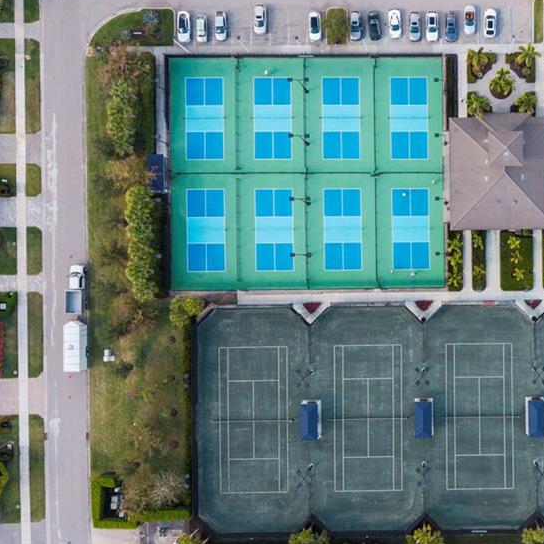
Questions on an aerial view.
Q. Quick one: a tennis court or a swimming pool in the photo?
tennis court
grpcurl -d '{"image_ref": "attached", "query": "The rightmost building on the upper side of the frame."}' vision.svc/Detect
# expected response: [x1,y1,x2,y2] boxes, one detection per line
[449,113,544,230]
